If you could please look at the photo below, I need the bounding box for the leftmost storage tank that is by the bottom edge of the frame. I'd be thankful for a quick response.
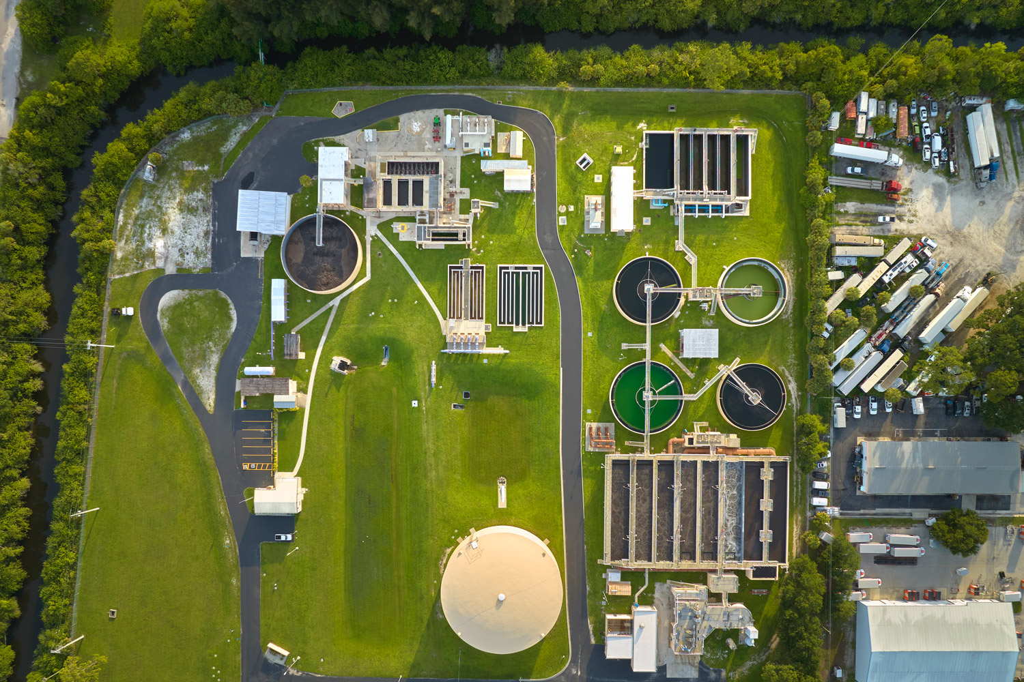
[440,523,563,654]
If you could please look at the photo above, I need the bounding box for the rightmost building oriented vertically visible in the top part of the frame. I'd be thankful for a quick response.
[609,165,637,233]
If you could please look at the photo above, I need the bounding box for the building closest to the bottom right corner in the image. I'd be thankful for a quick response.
[850,597,1020,682]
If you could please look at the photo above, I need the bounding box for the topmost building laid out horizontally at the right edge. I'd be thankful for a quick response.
[860,440,1022,494]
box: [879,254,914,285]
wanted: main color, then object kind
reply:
white camper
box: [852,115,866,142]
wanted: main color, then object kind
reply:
white vehicle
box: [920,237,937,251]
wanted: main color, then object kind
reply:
white car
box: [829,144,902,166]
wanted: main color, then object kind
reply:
white truck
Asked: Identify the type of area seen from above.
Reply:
industrial area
